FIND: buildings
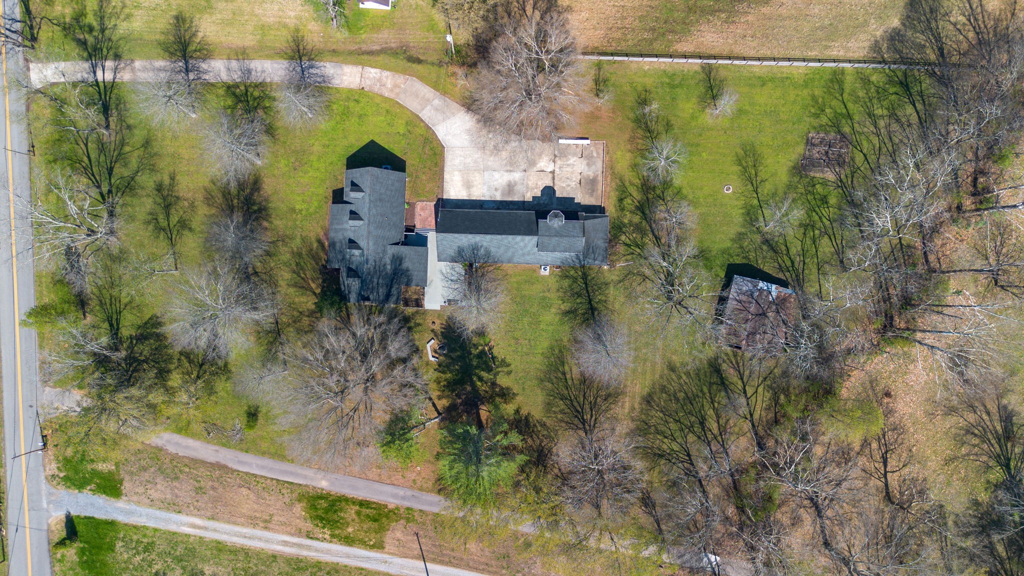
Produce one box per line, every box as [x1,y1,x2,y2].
[327,167,429,304]
[353,0,392,9]
[436,208,610,266]
[716,275,795,348]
